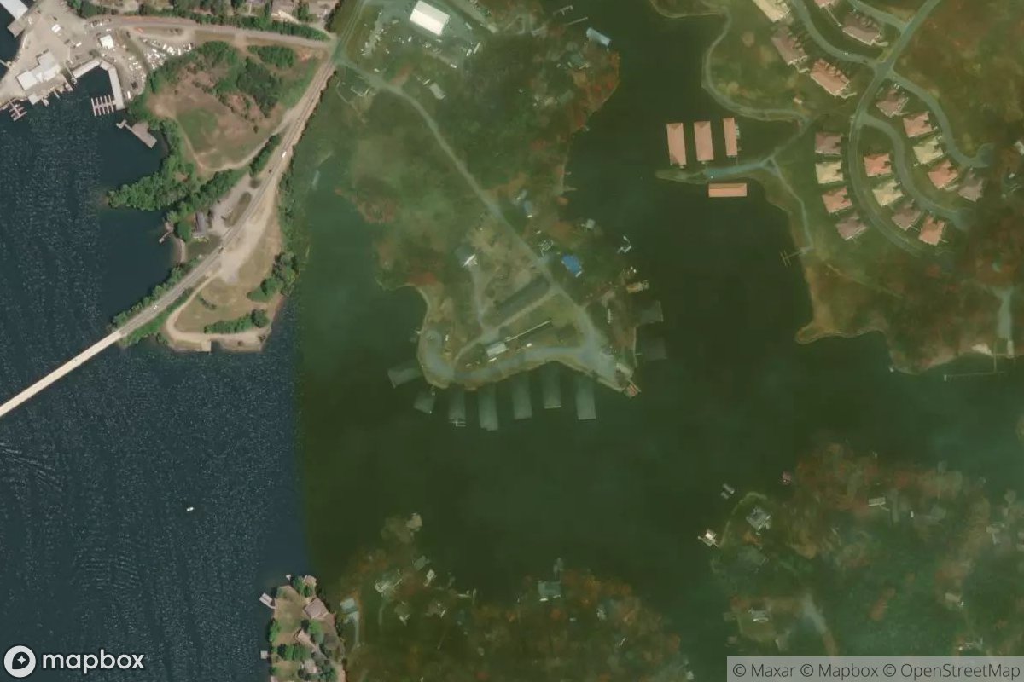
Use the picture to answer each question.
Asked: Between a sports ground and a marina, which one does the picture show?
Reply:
marina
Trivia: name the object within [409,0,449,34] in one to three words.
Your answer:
building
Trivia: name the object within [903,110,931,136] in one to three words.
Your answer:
house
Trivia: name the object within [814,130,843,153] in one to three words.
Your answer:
house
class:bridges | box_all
[0,329,122,417]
